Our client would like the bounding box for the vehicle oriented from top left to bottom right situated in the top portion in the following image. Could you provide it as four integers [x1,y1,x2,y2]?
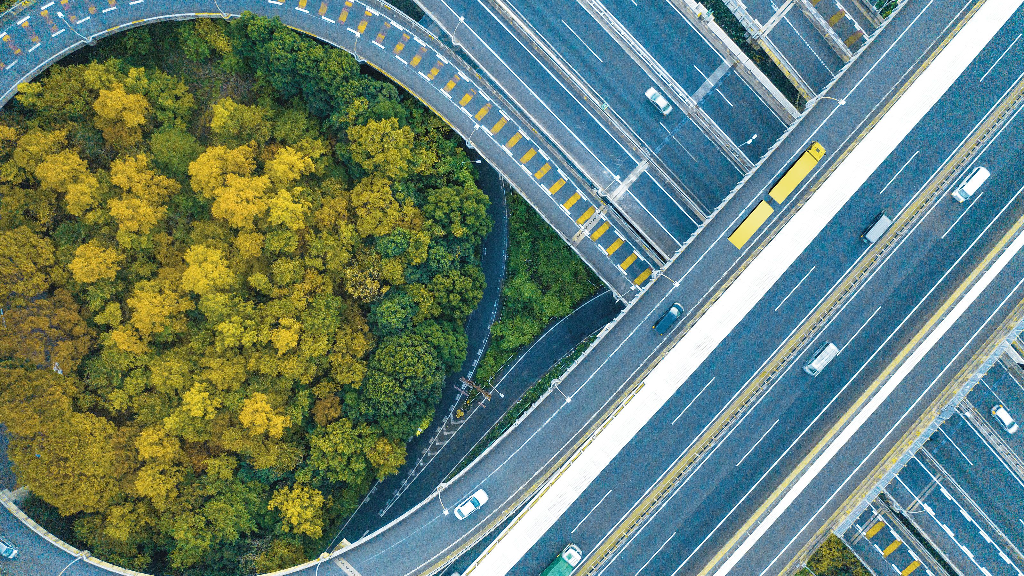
[643,87,673,118]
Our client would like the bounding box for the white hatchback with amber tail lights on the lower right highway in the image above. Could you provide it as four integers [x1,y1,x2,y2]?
[986,403,1016,433]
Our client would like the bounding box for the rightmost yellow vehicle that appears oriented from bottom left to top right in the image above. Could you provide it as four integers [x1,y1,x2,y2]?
[764,139,828,206]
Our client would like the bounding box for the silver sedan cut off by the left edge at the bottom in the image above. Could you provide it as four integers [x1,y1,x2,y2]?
[0,527,22,556]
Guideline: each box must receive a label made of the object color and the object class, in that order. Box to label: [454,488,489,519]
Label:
white car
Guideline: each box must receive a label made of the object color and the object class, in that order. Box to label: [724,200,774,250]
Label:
yellow trailer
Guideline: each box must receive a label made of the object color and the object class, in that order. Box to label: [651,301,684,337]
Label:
blue van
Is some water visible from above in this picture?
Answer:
No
